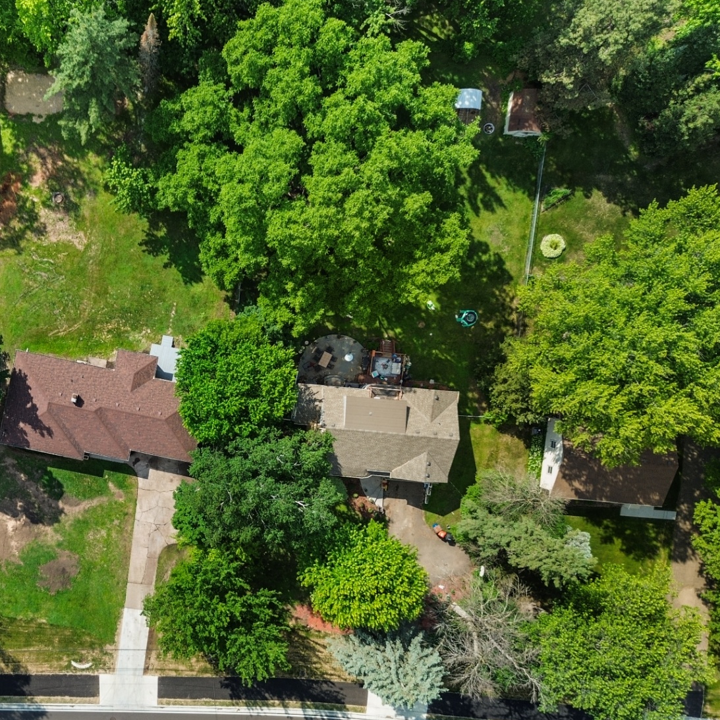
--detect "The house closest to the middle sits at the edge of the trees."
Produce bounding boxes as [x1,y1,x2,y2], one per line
[291,383,460,484]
